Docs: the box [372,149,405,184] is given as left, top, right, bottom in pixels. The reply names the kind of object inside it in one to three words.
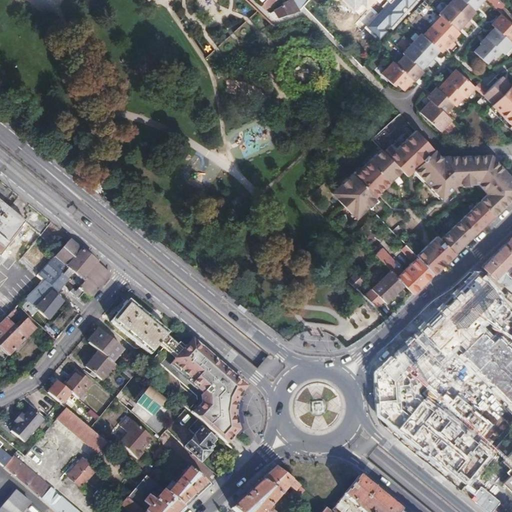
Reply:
house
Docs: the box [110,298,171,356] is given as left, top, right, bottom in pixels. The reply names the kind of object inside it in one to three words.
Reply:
building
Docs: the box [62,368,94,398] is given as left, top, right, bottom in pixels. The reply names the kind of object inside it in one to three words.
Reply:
house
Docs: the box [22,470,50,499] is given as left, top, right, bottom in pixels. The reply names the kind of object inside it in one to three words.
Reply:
shed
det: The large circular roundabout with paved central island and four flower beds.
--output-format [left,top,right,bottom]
[268,356,366,452]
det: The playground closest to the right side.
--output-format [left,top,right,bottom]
[228,119,275,160]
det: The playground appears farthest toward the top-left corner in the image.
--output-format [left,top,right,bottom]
[190,150,222,182]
